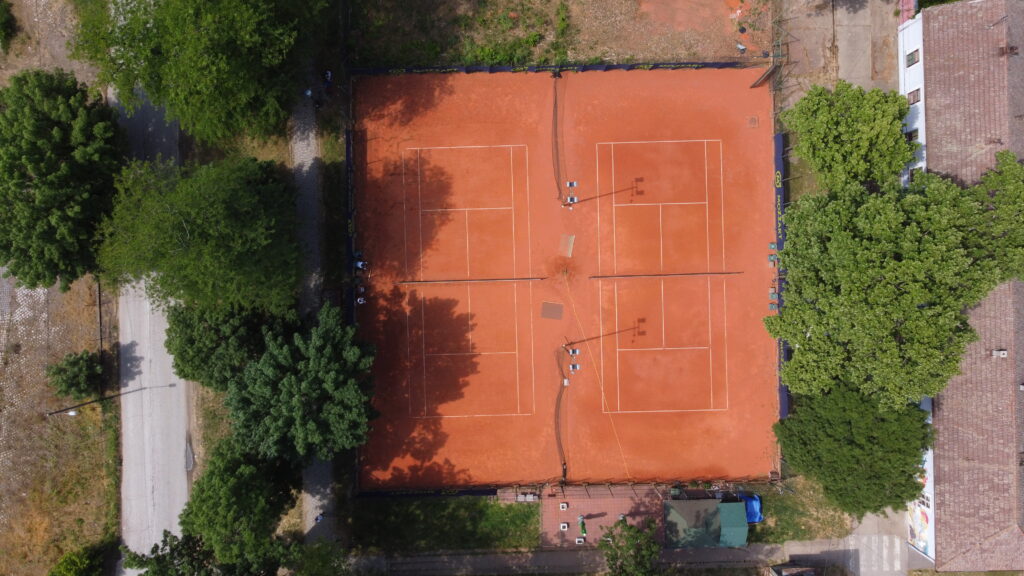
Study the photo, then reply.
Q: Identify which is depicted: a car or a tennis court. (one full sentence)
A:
Looking from above, you can make out a tennis court.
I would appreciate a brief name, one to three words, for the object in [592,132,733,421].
tennis court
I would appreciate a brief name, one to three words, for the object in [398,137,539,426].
tennis court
